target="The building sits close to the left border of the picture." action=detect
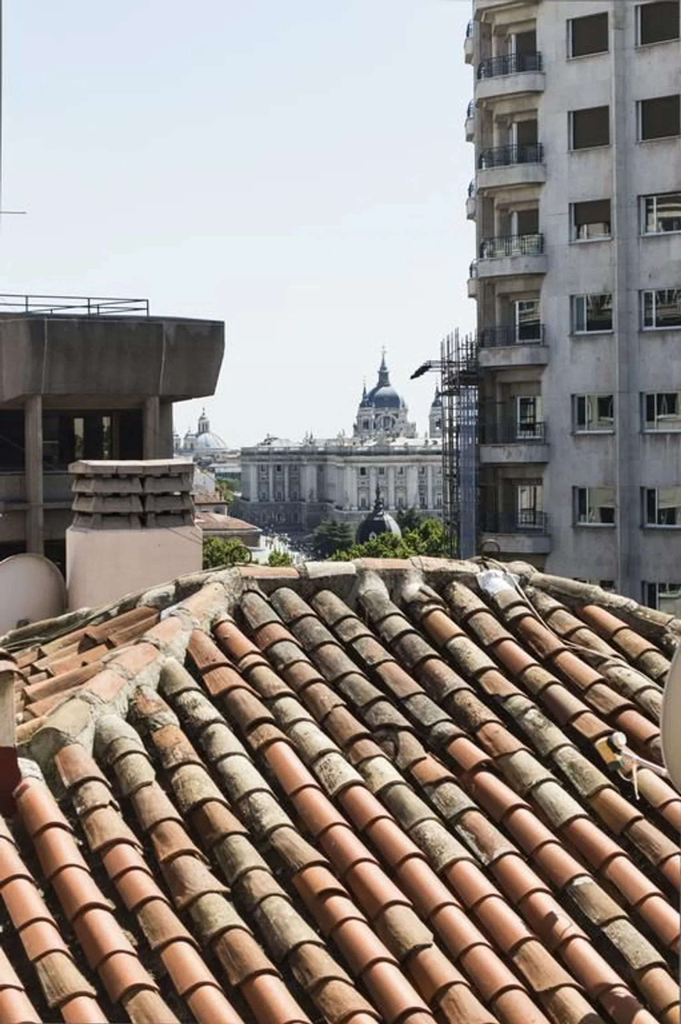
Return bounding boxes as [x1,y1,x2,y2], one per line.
[0,297,222,619]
